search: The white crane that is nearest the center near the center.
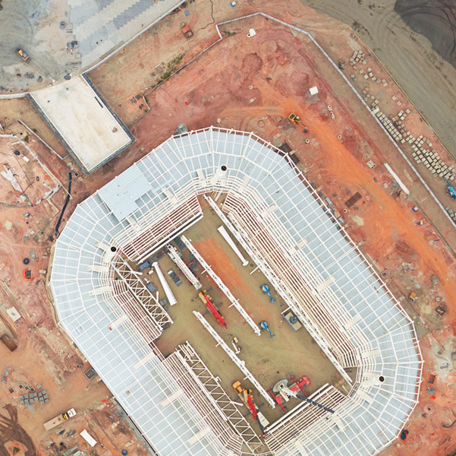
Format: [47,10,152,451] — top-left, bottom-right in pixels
[165,244,202,290]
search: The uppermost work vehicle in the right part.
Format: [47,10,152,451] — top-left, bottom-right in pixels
[287,112,307,133]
